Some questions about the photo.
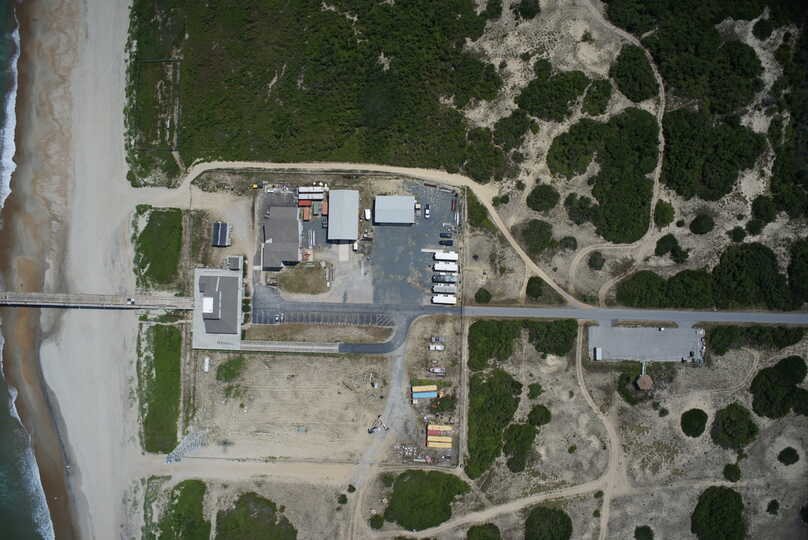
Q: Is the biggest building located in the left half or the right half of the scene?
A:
left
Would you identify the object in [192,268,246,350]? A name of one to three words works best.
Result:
building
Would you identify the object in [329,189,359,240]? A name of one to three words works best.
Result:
building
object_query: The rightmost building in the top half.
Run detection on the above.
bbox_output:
[375,196,415,223]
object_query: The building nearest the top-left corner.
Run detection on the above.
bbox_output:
[212,221,234,246]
